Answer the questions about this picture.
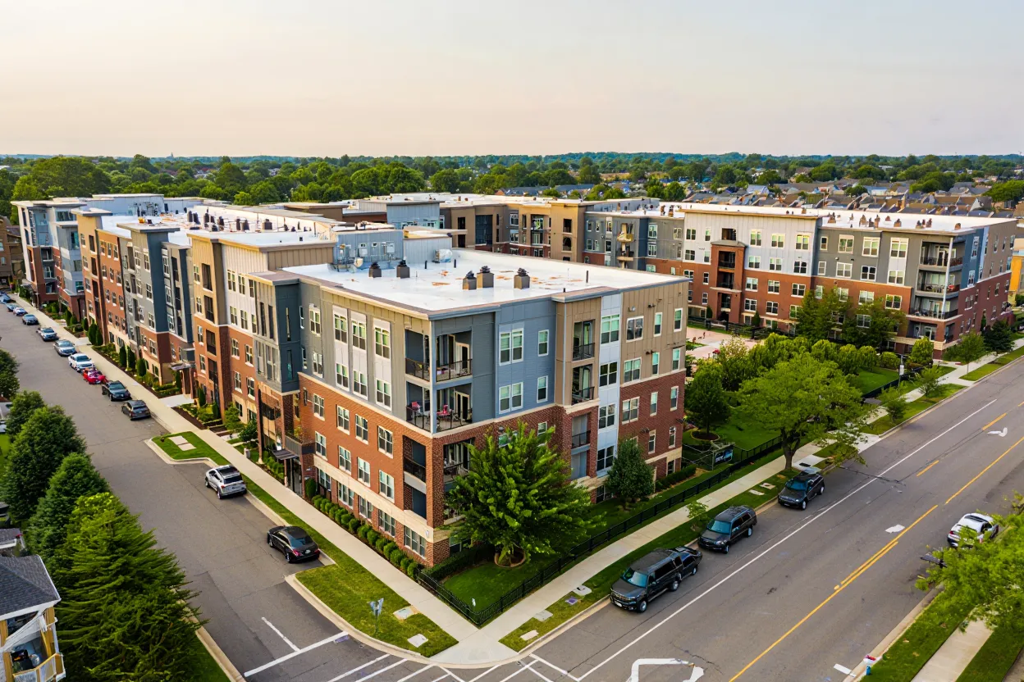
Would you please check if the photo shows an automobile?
Yes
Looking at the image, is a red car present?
Yes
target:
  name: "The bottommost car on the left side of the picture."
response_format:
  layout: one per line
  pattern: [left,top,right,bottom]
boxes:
[254,521,313,560]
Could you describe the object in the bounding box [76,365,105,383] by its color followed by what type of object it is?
red car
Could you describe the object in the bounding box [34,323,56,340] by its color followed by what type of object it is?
gray car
